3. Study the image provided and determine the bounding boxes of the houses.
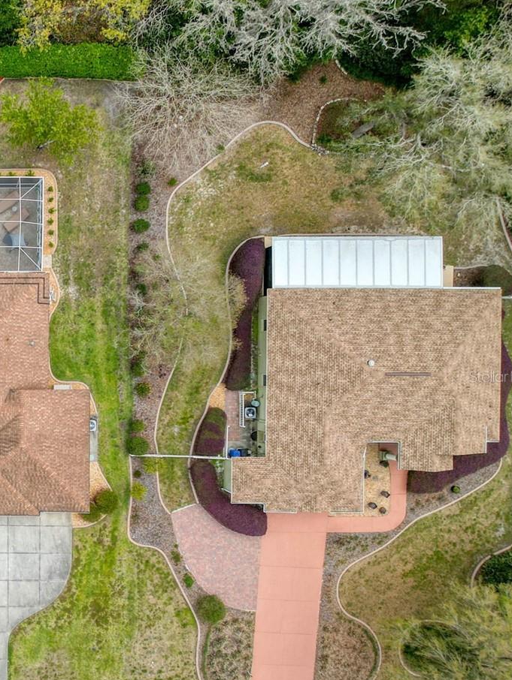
[0,270,90,517]
[222,235,503,514]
